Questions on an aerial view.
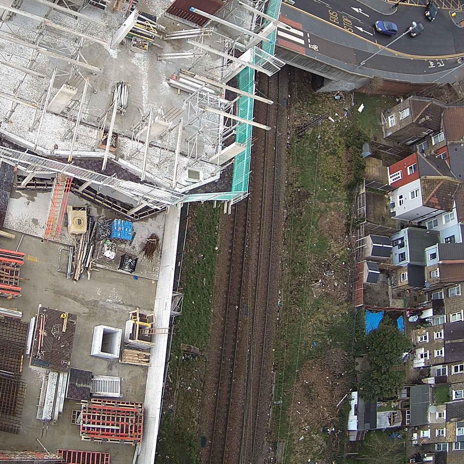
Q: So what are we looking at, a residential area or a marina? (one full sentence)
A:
It's a residential area.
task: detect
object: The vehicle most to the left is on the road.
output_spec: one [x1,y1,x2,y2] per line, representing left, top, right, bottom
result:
[379,20,400,34]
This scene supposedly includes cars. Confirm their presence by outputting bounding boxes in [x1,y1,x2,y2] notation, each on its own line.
[426,0,438,18]
[411,23,428,36]
[379,20,400,34]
